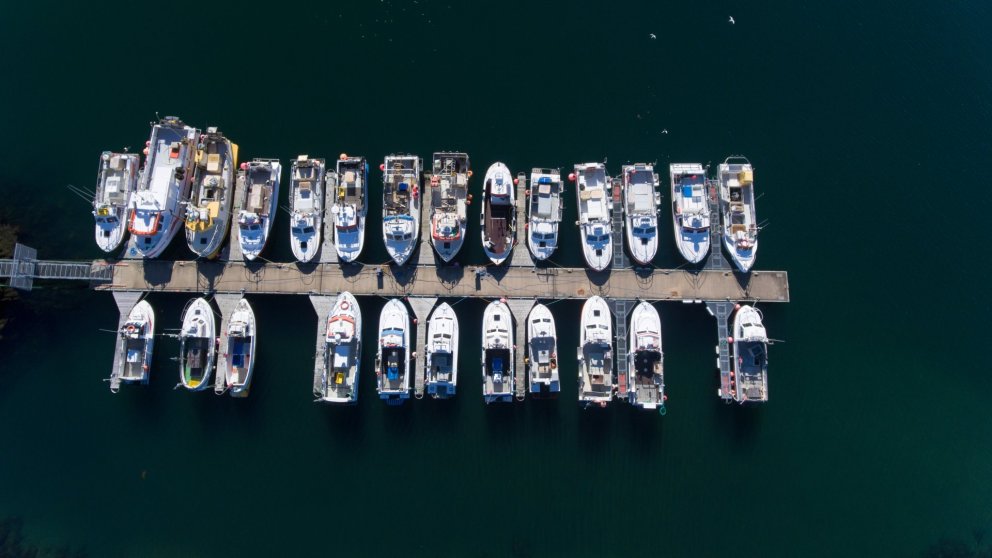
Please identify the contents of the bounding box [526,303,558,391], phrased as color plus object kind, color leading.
white boat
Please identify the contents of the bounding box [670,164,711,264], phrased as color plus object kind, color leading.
white boat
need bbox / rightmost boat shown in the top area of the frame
[718,157,769,273]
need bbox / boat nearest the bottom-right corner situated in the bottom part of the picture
[730,304,785,402]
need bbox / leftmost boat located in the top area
[72,149,139,253]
